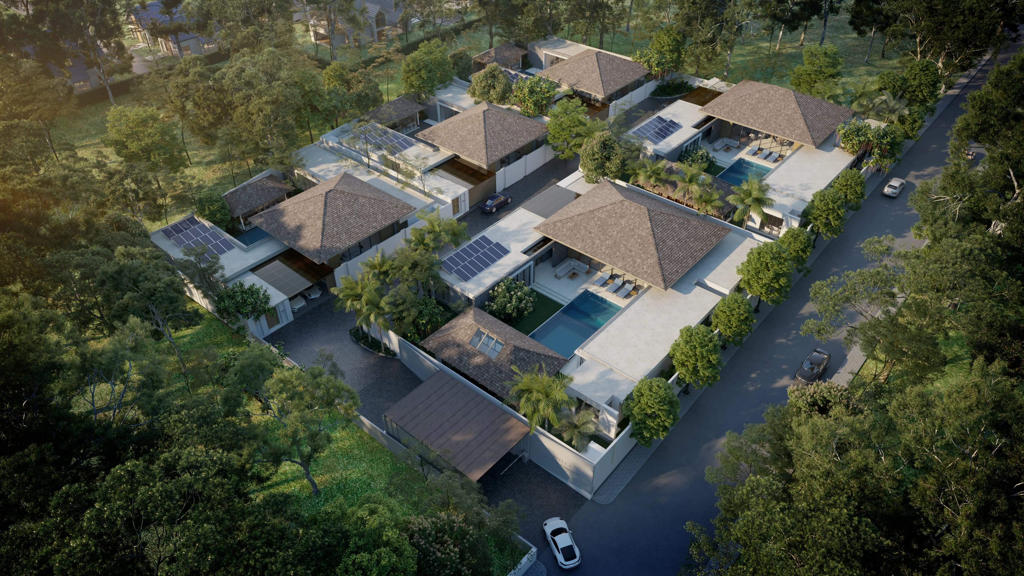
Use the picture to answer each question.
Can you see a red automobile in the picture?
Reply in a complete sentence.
No, this view has no red automobile in it.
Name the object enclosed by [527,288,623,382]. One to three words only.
swimming pool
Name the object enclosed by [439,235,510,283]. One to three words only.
solar array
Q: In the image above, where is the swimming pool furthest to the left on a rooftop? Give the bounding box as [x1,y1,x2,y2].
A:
[235,226,266,244]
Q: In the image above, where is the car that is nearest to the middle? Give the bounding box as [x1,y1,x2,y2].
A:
[481,192,511,212]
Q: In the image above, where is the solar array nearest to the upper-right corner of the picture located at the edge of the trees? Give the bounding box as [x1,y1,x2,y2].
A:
[632,115,684,144]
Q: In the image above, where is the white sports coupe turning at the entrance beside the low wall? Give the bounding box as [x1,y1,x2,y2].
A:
[545,517,579,572]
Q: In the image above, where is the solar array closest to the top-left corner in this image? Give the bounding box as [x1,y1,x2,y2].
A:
[159,216,235,261]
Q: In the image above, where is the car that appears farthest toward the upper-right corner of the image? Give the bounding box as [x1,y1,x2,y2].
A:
[883,179,905,197]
